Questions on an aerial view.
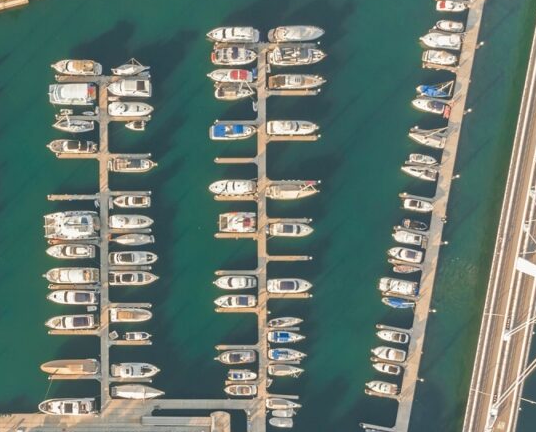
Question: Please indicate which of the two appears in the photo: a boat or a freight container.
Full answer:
The image shows a boat.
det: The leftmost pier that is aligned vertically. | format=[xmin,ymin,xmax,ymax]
[48,74,151,414]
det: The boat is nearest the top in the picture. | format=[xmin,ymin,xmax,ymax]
[434,0,468,12]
